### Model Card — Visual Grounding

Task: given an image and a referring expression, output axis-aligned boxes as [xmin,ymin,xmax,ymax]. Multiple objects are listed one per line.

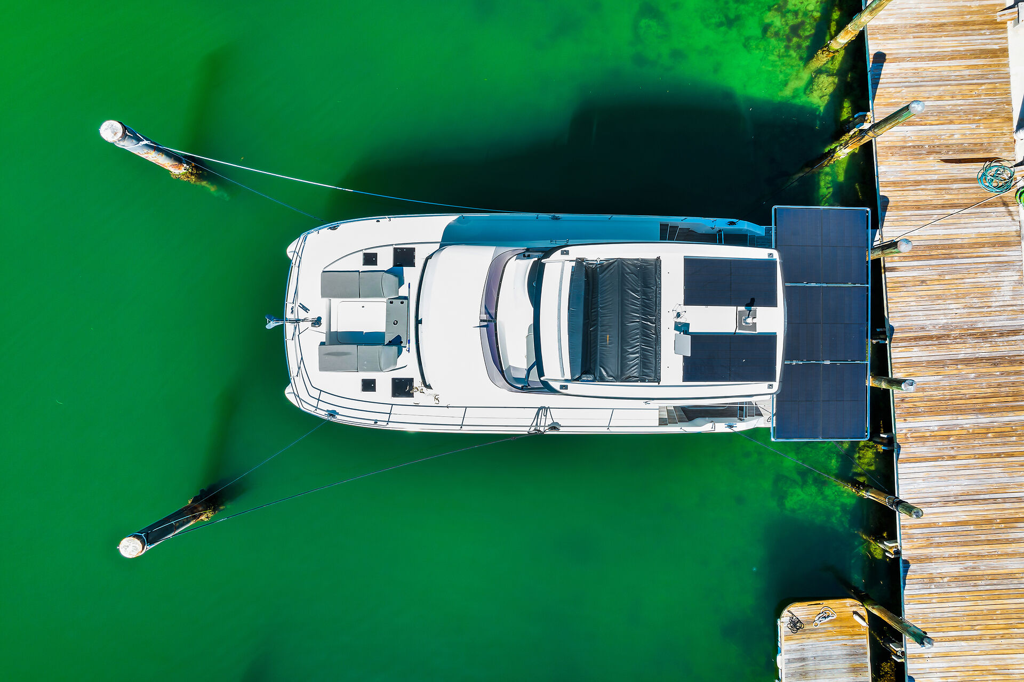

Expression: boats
[265,206,871,441]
